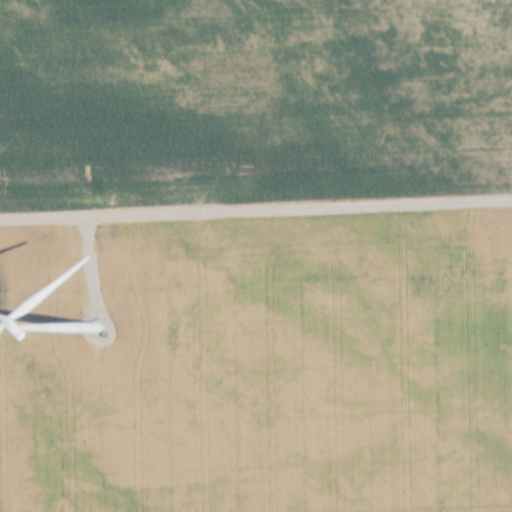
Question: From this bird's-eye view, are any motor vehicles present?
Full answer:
No, there appears to be no motor vehicle in this shot.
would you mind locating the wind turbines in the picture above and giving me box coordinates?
[0,258,104,340]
